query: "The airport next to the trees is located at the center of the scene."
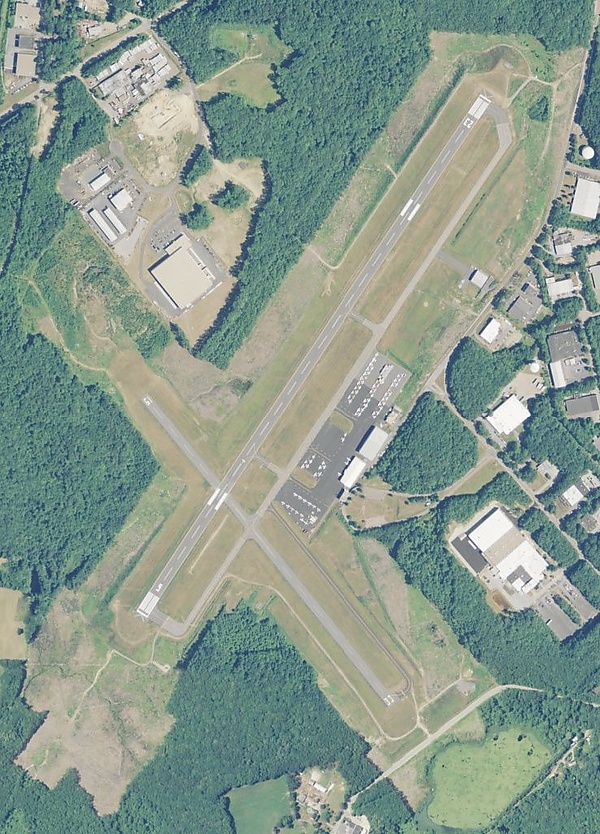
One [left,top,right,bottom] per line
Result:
[135,91,513,709]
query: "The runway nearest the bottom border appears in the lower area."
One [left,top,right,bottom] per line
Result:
[143,395,392,709]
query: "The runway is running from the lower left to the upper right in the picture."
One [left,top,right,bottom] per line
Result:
[137,94,491,617]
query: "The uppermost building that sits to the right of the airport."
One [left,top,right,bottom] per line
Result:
[572,178,600,218]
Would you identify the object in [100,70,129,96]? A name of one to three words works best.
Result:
shed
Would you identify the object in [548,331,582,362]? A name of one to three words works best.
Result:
building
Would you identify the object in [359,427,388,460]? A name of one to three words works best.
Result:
hangar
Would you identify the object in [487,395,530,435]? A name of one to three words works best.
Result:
building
